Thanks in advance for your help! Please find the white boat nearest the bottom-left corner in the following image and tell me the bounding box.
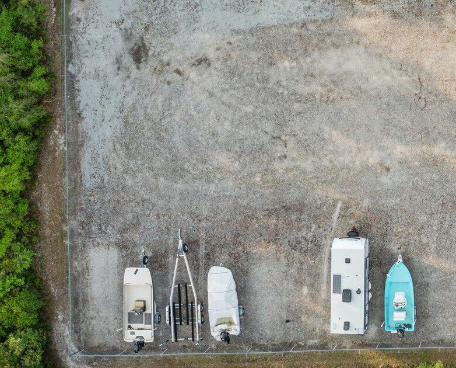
[124,268,154,353]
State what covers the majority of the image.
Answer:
paved ground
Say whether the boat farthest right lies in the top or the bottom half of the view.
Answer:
bottom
